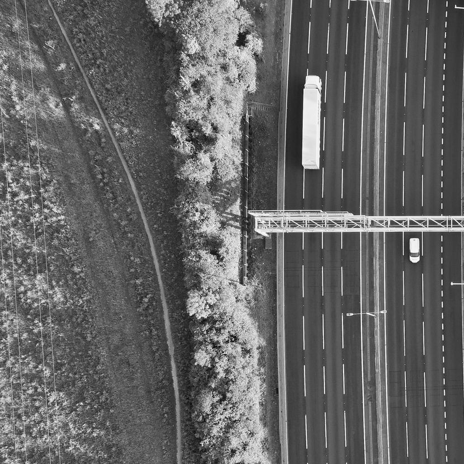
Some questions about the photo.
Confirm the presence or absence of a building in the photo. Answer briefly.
No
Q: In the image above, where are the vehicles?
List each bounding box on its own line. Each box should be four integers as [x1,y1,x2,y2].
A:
[304,78,323,168]
[408,238,421,263]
